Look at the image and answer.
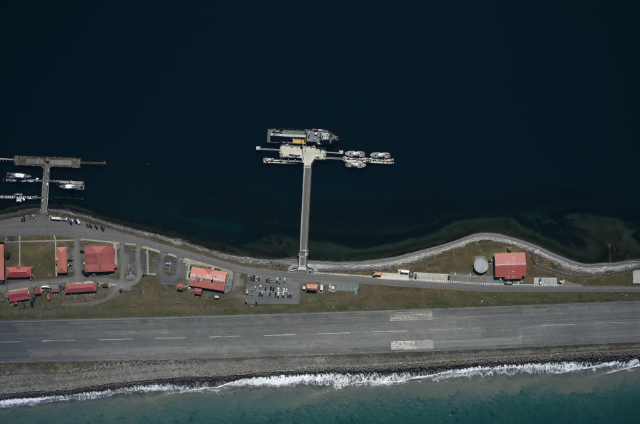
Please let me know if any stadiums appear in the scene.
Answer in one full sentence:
No, no stadium is visible in the scene.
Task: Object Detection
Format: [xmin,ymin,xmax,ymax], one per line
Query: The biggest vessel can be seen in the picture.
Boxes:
[268,129,339,144]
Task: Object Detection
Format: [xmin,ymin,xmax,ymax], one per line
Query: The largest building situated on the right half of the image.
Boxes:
[494,252,526,279]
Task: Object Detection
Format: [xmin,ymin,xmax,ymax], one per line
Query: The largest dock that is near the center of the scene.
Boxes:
[256,145,343,273]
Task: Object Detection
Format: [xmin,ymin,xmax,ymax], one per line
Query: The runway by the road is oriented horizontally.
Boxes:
[0,301,640,363]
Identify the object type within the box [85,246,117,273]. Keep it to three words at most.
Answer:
building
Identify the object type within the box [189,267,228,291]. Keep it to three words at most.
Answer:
house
